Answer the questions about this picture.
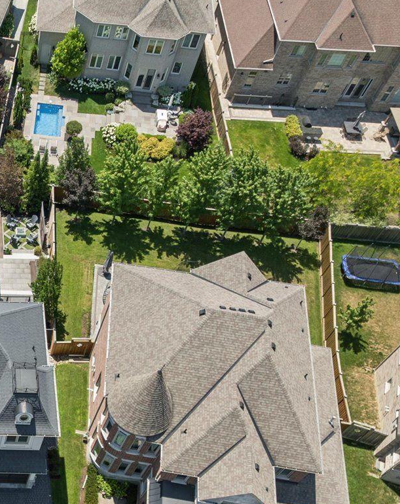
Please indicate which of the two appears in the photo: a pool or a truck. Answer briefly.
pool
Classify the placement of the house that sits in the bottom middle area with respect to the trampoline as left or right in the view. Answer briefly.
to the left of it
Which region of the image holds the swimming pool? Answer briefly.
top left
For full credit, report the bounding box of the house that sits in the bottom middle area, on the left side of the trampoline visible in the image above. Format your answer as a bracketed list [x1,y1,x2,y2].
[84,251,351,504]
